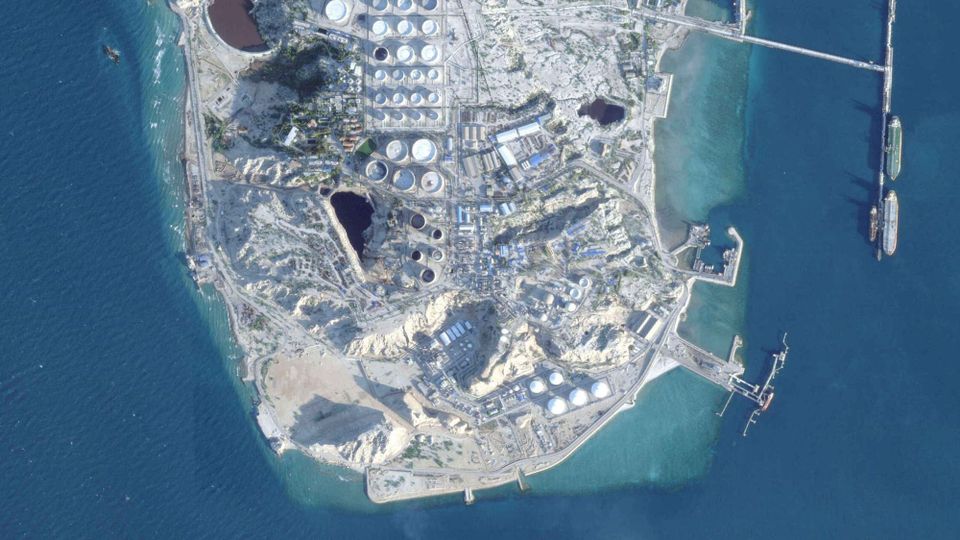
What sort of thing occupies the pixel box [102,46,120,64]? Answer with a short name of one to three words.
ship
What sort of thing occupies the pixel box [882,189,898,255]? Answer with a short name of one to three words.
ship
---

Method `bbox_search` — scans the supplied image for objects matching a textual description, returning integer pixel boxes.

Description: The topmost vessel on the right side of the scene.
[887,116,901,180]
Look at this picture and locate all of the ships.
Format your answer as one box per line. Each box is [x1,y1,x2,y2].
[882,189,898,255]
[887,116,901,180]
[102,46,120,64]
[762,393,773,410]
[869,205,877,241]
